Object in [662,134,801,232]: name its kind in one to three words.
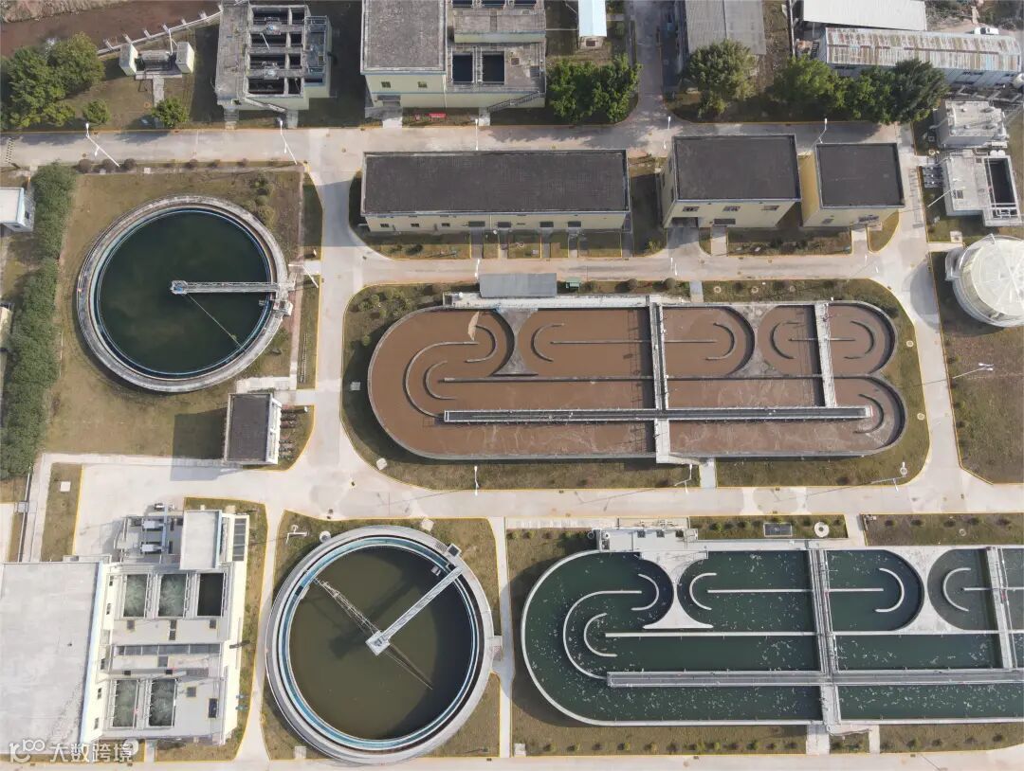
building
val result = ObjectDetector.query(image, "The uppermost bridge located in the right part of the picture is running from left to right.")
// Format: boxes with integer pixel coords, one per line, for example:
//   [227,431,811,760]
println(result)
[444,404,875,427]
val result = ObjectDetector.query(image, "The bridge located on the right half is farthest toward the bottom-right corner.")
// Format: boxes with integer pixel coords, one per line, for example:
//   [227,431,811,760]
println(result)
[607,664,1024,691]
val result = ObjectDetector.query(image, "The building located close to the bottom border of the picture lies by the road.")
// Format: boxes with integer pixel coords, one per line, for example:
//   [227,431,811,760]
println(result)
[0,561,117,745]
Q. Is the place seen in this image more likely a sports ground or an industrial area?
industrial area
